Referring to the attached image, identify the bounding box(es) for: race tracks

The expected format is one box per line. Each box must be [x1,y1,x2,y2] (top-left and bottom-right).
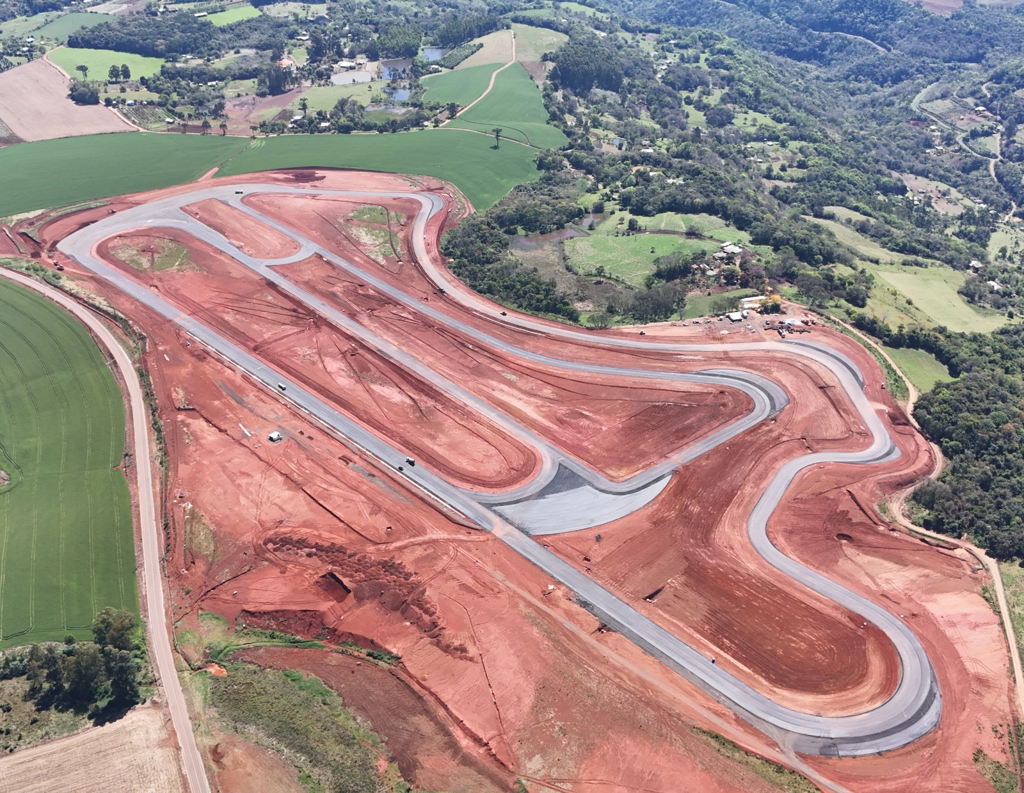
[56,183,942,757]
